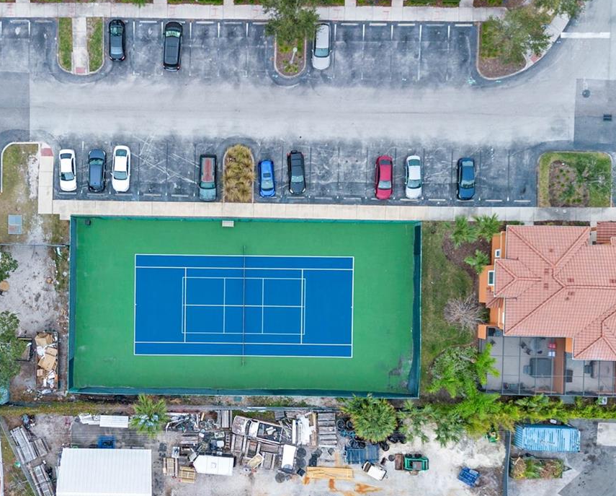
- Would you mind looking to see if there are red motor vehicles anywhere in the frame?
Yes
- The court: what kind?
tennis court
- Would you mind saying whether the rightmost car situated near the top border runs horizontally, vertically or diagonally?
vertically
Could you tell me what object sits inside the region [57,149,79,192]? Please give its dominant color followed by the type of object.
white car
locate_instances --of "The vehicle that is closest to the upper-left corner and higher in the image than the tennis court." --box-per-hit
[107,20,126,62]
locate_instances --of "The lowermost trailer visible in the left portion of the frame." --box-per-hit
[185,451,234,476]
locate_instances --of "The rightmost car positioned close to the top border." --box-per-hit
[312,23,332,70]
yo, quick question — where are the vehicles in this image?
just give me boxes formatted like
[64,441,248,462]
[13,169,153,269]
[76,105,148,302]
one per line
[87,149,107,193]
[312,23,332,70]
[360,461,387,481]
[456,157,477,201]
[107,20,126,62]
[162,21,184,72]
[258,159,276,198]
[286,148,307,196]
[198,154,217,201]
[392,449,427,471]
[404,154,425,200]
[111,145,131,193]
[374,154,394,201]
[57,149,79,192]
[233,415,291,445]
